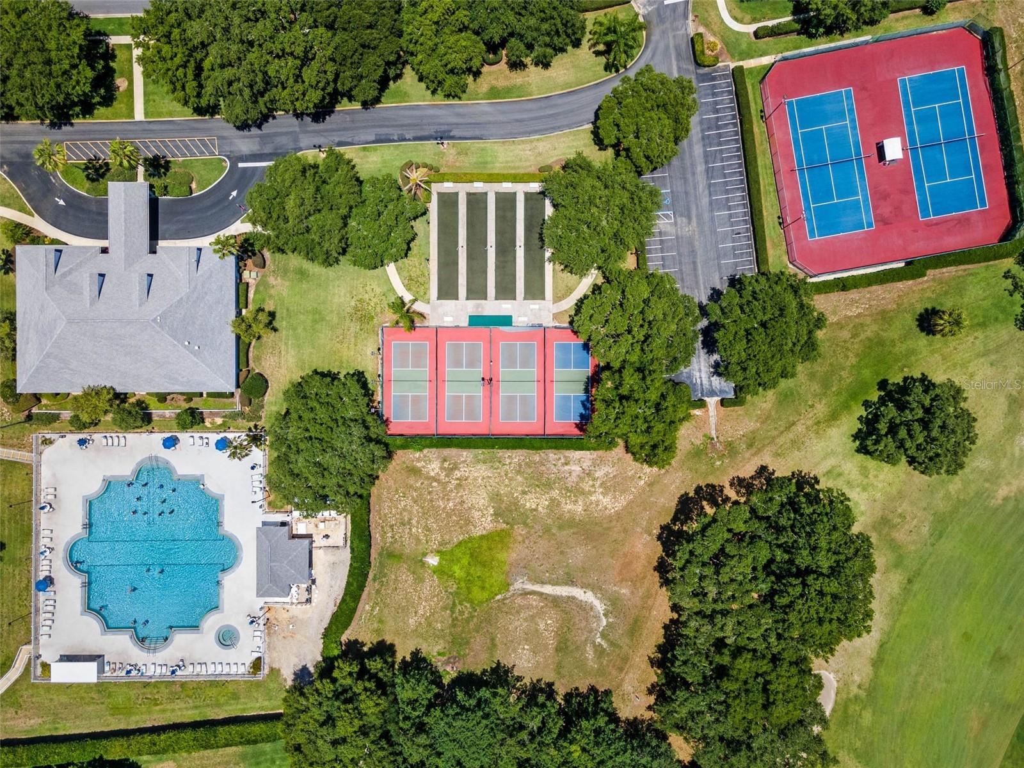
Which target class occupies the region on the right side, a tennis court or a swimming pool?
tennis court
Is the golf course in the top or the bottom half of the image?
bottom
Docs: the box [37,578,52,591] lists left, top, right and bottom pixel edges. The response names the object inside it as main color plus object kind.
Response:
blue umbrella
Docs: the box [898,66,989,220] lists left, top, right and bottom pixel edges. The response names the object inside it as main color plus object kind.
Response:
blue tennis court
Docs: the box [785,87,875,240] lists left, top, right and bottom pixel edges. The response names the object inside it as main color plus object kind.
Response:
blue tennis court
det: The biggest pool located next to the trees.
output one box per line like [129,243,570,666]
[62,455,243,657]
